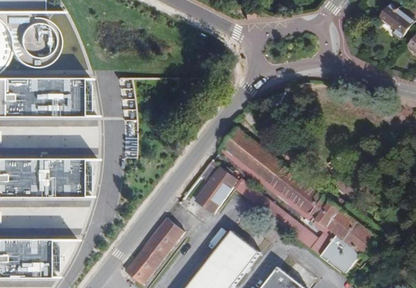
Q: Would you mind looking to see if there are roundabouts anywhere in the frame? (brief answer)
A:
Yes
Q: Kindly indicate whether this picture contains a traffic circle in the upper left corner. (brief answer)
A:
No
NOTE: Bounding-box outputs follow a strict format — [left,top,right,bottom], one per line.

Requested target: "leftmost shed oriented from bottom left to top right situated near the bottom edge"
[126,217,187,288]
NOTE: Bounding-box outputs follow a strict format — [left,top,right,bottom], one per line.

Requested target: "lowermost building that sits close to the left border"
[0,238,82,283]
